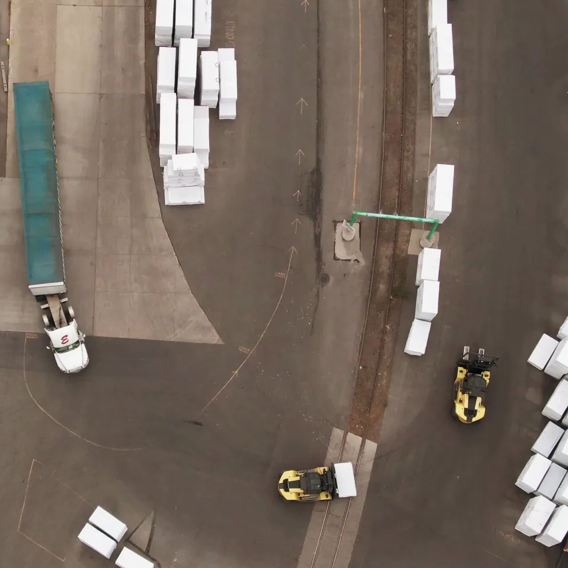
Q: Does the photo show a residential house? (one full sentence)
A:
No, I can't see a single residential house in this photo.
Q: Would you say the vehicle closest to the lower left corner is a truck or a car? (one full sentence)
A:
The vehicle closest to the lower left corner is a truck.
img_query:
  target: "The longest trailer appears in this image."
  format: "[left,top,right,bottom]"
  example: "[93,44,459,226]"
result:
[14,80,68,296]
